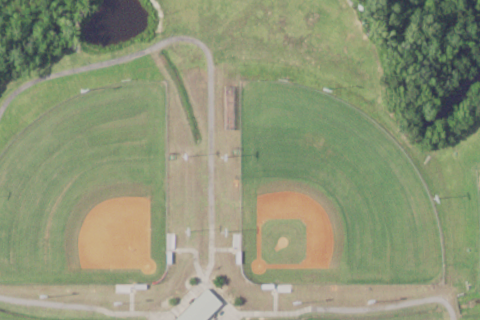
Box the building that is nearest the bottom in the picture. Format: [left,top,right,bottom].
[179,290,223,320]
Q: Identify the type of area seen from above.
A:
sports ground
